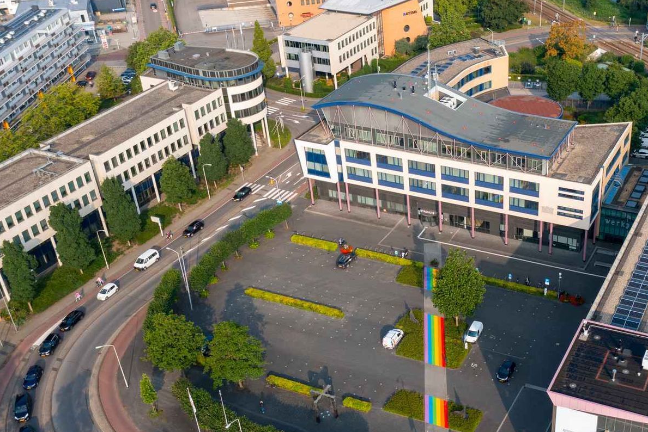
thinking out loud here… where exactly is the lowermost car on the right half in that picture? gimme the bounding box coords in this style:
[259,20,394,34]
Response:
[497,356,518,379]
